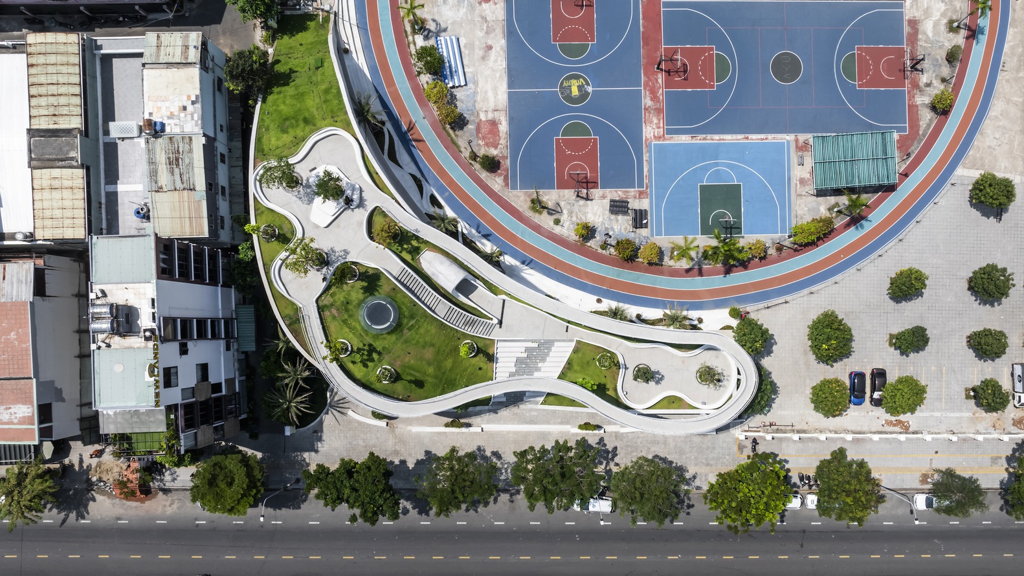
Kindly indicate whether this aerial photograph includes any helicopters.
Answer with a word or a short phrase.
No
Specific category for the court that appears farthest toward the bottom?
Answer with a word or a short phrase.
basketball court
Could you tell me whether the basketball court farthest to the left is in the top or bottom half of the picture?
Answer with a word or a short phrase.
top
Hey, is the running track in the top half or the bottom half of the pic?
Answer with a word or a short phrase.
top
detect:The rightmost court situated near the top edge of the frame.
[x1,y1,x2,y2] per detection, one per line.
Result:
[661,0,908,136]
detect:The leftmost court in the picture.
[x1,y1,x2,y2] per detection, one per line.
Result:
[505,0,645,190]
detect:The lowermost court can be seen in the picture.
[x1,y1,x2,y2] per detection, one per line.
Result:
[649,140,792,237]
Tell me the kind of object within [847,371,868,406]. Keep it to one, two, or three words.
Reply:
car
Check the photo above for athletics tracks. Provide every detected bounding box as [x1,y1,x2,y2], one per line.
[355,0,1011,311]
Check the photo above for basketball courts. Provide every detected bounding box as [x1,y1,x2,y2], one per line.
[649,140,792,237]
[505,0,645,190]
[661,0,908,136]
